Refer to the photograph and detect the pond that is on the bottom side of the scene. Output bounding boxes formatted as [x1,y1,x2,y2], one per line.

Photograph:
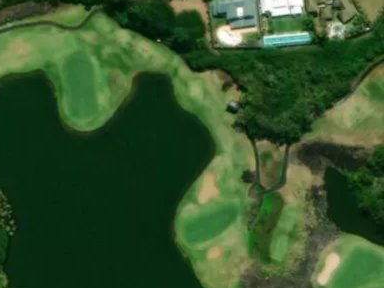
[325,163,384,246]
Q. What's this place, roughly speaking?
golf course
